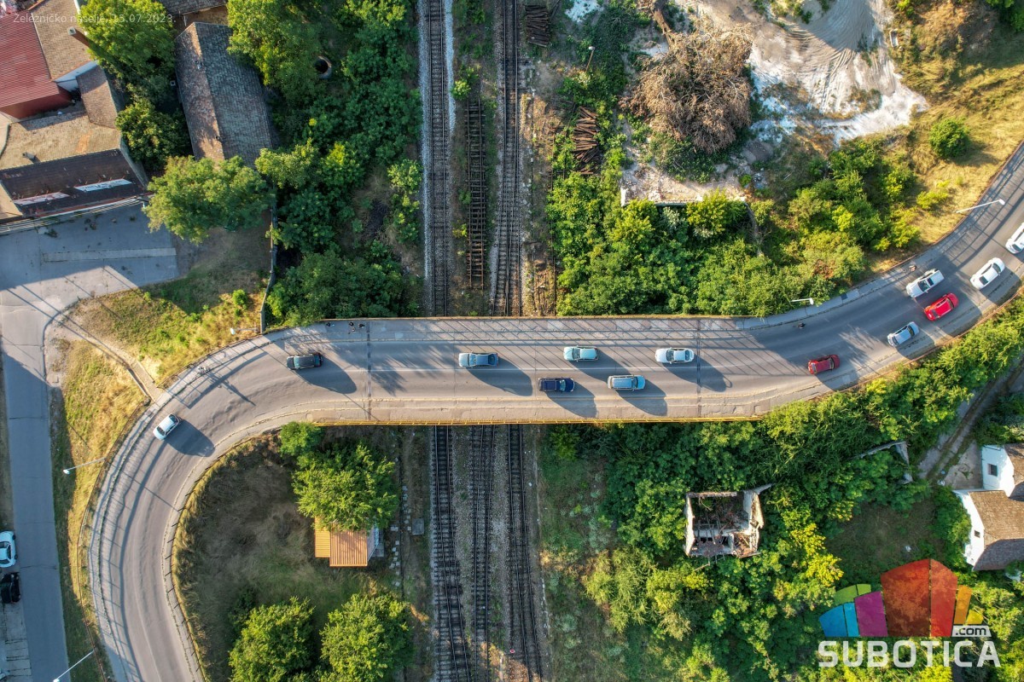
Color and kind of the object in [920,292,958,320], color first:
red car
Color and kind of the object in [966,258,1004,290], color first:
white car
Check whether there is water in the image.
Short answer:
No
